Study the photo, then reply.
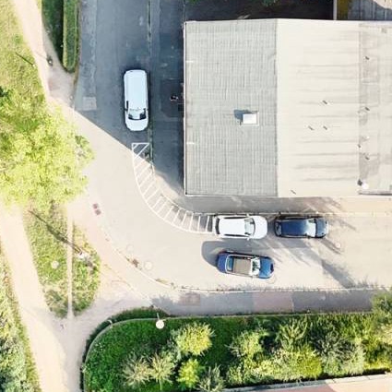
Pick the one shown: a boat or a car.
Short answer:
car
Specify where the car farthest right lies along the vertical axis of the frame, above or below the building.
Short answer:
below it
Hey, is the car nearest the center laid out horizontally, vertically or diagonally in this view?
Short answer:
horizontally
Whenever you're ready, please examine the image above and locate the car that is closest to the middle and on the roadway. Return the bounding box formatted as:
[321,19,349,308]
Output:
[215,215,269,243]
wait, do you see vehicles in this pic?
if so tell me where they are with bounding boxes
[217,254,275,282]
[215,215,269,243]
[275,216,330,243]
[122,71,151,132]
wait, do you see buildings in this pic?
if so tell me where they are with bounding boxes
[181,18,392,199]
